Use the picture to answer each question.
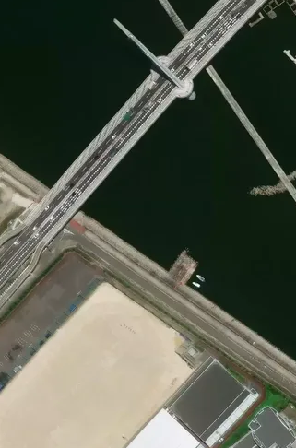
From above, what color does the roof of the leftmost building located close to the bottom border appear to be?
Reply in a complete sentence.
The color of the roof on the leftmost building located close to the bottom border is white.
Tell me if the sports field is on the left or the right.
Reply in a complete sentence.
You can find the sports field on the left side of the picture.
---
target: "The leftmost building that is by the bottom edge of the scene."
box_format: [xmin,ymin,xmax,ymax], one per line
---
[127,409,208,448]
